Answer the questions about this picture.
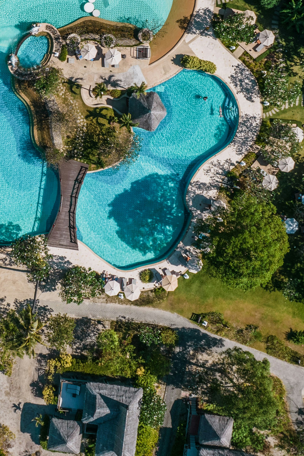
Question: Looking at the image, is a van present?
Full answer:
No, I can't see a single van in this photo.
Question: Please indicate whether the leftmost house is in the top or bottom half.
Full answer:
The leftmost house is in the bottom half of the image.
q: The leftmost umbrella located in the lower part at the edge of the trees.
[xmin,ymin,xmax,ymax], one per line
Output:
[105,280,120,296]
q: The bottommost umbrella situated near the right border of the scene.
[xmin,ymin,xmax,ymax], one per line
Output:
[283,219,298,233]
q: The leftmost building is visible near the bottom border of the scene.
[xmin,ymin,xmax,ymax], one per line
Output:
[47,415,82,455]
